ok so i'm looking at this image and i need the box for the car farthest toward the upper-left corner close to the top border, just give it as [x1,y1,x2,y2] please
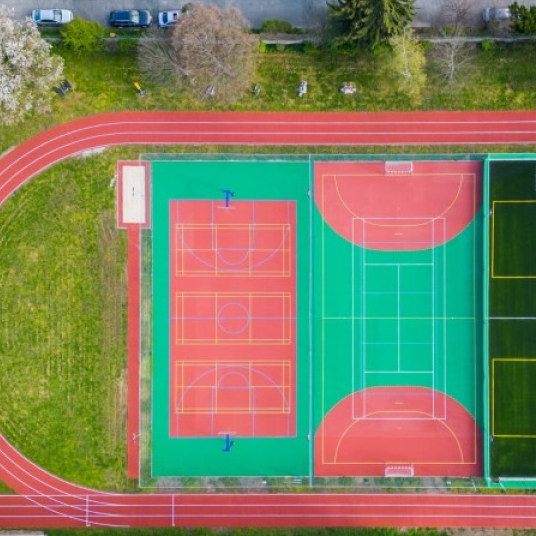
[31,7,72,28]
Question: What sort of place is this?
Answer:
sports ground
